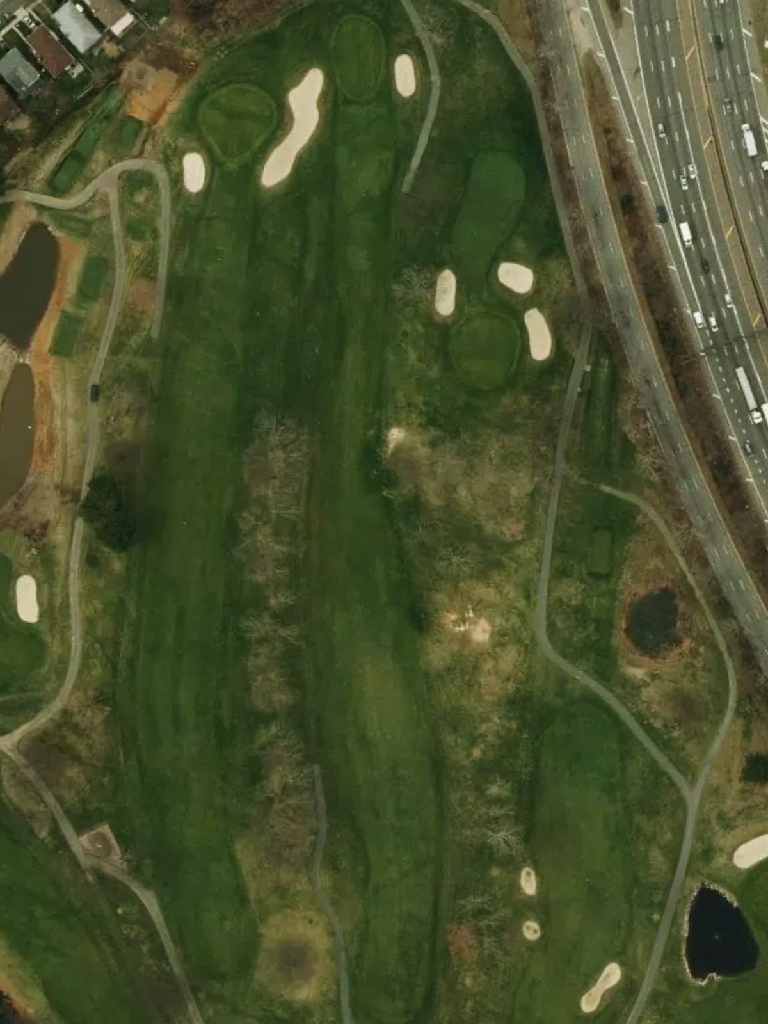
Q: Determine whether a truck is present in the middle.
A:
No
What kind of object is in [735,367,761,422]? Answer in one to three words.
truck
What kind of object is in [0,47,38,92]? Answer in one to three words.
house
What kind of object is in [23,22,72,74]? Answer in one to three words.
house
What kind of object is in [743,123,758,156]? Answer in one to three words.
vehicle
